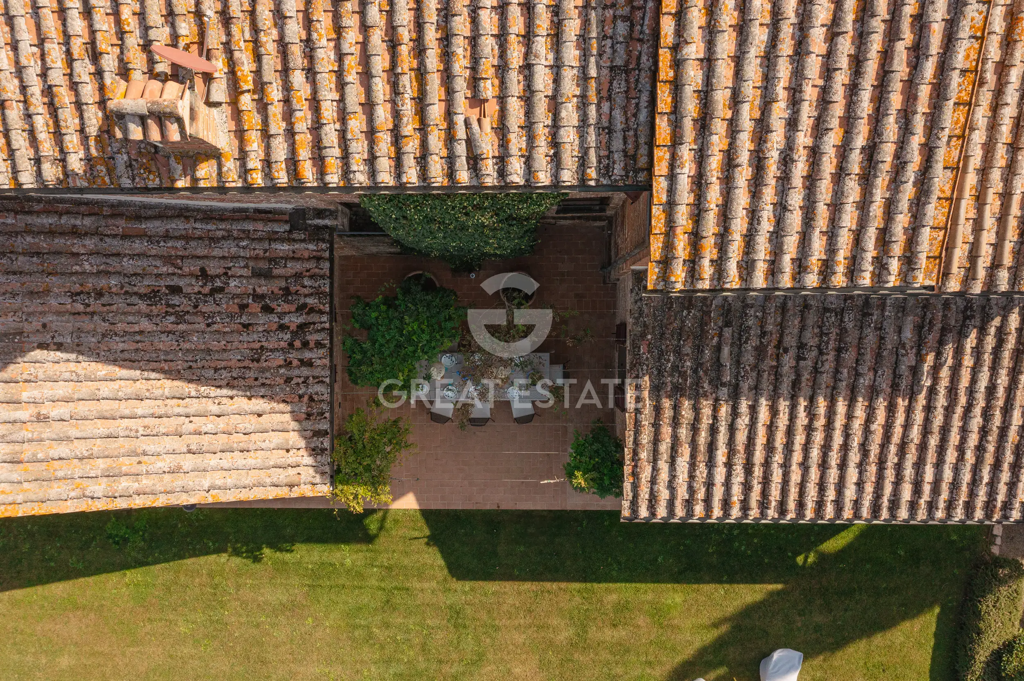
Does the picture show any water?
No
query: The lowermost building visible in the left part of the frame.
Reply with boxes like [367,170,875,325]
[0,196,342,523]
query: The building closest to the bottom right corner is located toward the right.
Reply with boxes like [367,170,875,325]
[612,259,1024,526]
